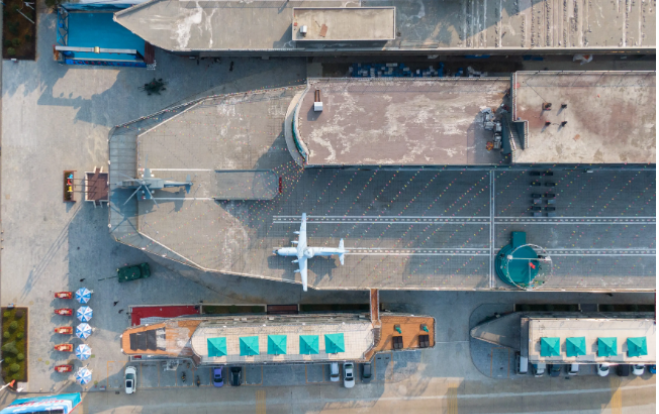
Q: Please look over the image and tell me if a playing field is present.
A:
No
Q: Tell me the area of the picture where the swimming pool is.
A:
top left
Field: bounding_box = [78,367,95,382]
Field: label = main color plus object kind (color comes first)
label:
white umbrella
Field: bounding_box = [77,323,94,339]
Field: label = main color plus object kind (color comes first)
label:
white umbrella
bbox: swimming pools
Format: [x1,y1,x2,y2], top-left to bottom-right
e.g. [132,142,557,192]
[53,8,156,68]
